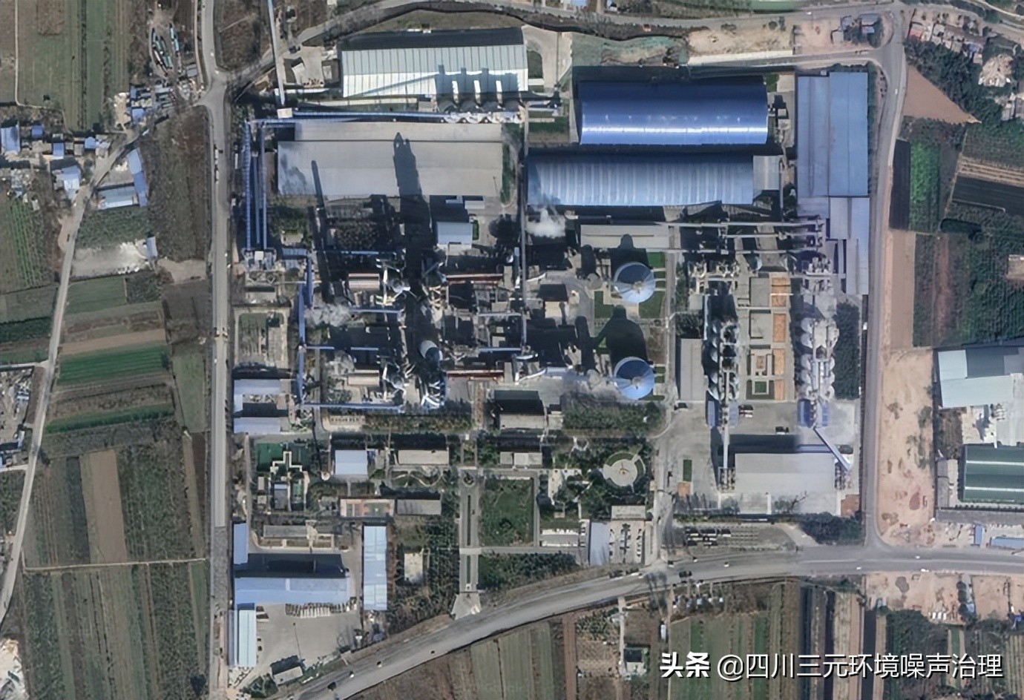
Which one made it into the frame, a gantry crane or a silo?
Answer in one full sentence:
It is a silo that can be seen here.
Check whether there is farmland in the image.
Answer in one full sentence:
Yes, the picture does contain farmland.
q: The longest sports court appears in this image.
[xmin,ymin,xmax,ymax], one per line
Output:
[362,499,394,516]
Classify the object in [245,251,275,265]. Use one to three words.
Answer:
house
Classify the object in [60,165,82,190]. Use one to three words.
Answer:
building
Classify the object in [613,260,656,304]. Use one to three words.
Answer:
silo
